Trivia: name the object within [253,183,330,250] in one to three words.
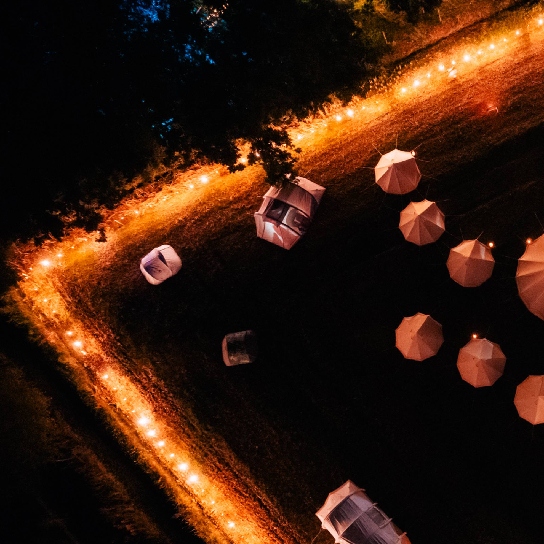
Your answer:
tent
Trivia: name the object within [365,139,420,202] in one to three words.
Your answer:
tent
